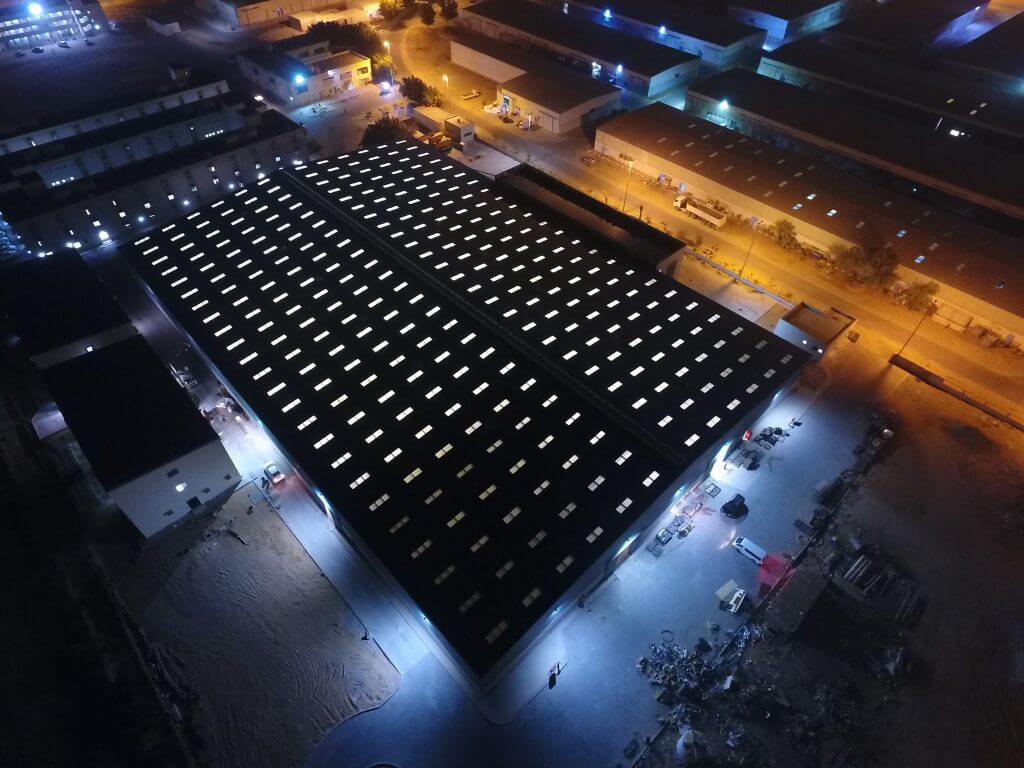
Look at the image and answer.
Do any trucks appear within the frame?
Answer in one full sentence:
Yes, the frame does contain a truck.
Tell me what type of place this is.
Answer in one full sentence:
This looks like an industrial area.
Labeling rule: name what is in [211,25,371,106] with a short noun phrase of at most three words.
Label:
building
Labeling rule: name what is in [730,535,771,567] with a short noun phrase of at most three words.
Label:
vehicle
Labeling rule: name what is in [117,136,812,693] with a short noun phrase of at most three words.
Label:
warehouse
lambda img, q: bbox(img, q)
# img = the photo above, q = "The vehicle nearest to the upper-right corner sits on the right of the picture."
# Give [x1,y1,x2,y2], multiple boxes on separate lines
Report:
[671,193,730,228]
